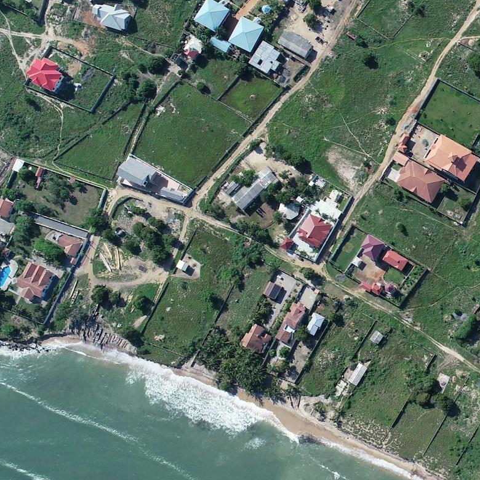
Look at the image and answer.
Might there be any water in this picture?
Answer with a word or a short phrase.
Yes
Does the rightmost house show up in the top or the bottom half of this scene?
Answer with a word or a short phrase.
top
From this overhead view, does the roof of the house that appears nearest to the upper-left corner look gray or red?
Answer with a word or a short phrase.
red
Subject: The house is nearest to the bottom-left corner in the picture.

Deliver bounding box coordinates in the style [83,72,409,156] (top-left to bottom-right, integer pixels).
[16,261,61,302]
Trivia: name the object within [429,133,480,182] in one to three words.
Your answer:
house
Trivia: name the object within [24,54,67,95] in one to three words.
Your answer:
house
